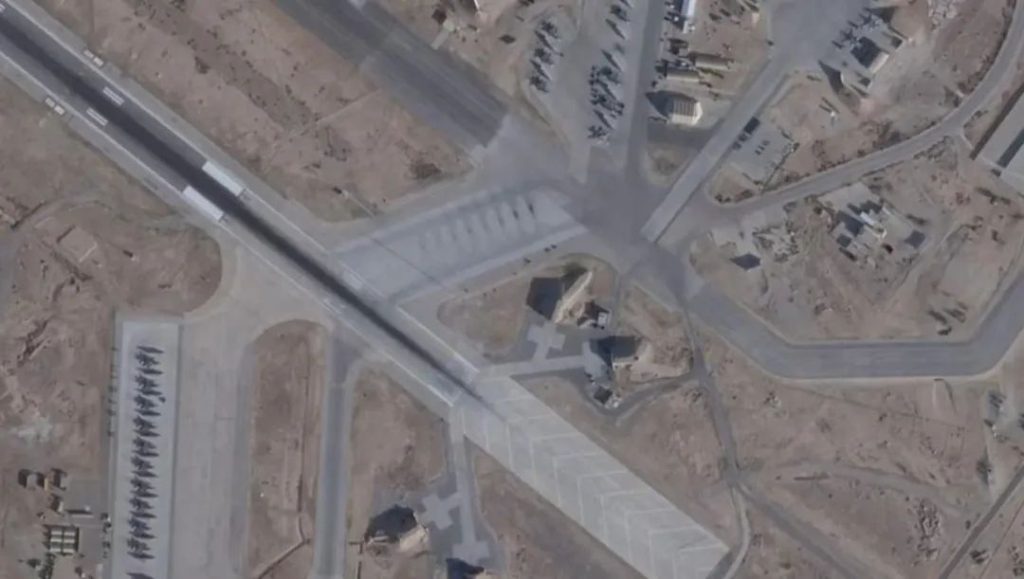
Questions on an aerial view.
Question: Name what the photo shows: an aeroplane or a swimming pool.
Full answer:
There is an aeroplane in the scene.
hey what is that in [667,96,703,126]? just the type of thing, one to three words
hangar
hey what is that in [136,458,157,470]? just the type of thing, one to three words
airplane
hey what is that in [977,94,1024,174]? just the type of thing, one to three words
building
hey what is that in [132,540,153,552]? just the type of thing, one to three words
airplane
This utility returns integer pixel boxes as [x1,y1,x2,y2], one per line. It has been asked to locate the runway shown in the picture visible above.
[0,0,478,407]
